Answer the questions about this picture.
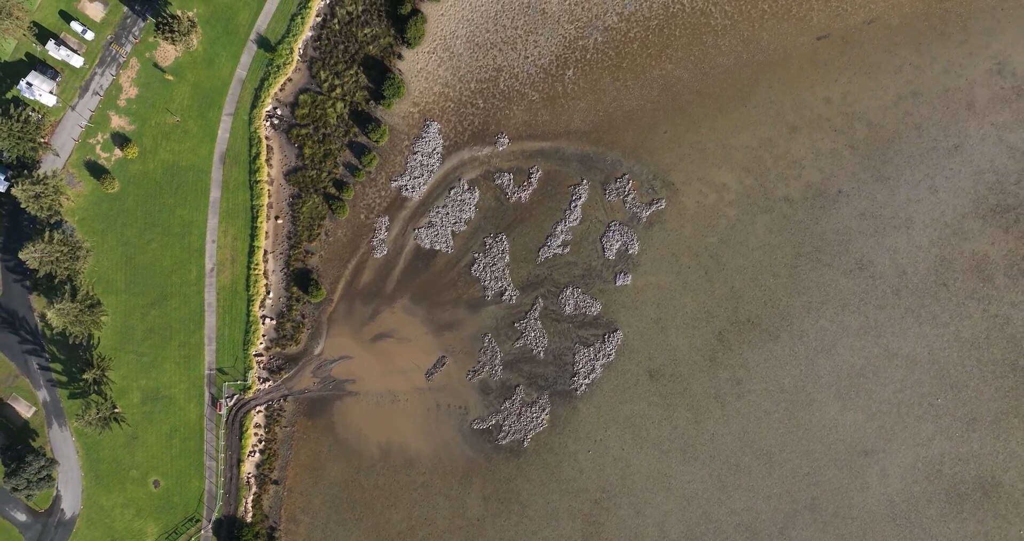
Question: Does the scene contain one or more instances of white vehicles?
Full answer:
Yes, a white vehicle can be made out from above.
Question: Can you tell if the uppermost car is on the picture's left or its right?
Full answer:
It is on the left.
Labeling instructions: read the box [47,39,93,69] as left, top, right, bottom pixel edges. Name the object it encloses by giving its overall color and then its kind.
white camper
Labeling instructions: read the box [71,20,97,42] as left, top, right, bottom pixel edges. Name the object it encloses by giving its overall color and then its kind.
white car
